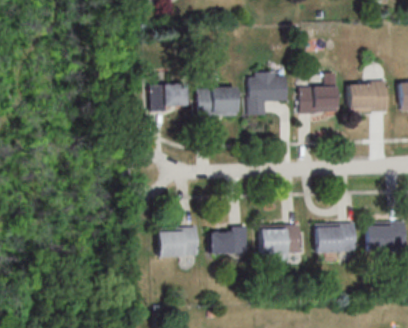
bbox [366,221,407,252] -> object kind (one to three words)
house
